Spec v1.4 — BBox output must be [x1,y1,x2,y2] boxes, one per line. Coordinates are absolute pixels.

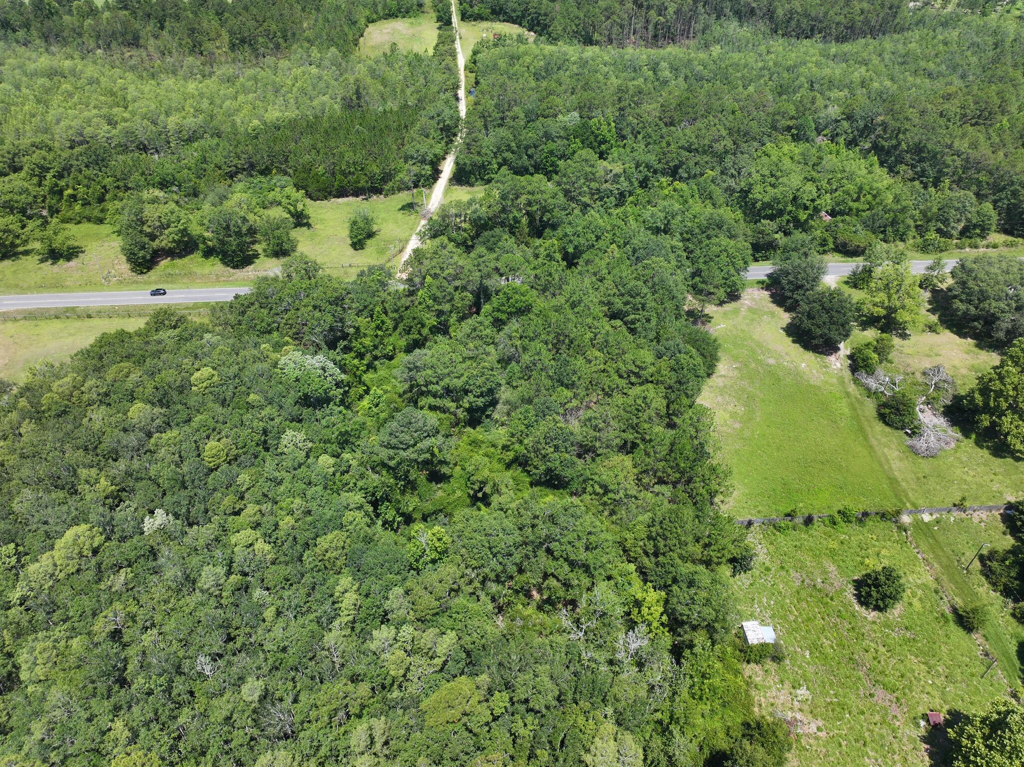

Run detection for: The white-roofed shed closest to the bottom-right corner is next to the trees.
[741,623,776,652]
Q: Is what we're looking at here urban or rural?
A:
rural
